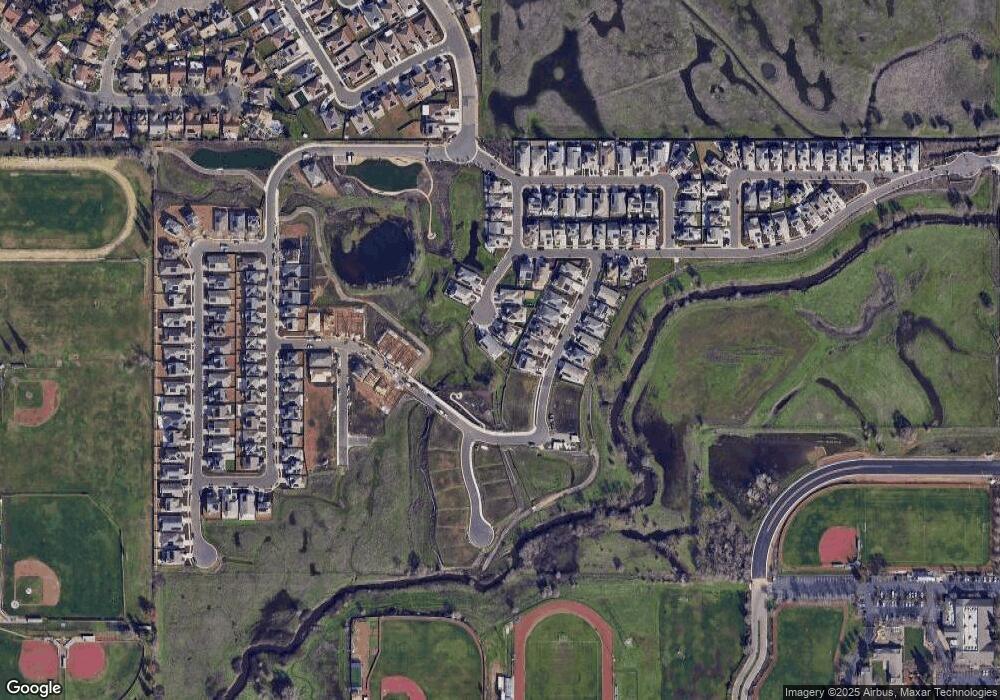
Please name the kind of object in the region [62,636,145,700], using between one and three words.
baseball field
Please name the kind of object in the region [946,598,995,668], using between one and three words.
building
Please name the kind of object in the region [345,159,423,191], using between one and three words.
pond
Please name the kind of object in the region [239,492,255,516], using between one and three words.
house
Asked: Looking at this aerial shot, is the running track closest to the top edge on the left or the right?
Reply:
left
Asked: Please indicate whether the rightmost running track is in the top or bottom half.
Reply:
bottom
